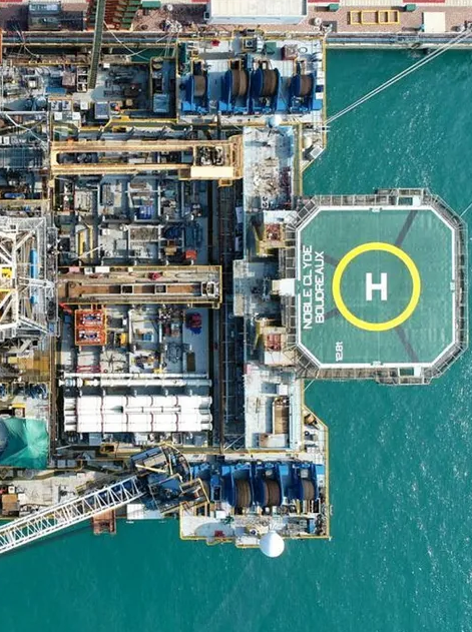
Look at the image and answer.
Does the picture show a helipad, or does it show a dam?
helipad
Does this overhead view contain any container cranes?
Yes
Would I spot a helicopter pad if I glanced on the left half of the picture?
No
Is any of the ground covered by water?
Yes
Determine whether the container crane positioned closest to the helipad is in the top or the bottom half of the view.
top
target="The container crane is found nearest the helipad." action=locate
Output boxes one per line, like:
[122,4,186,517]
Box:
[49,136,245,189]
